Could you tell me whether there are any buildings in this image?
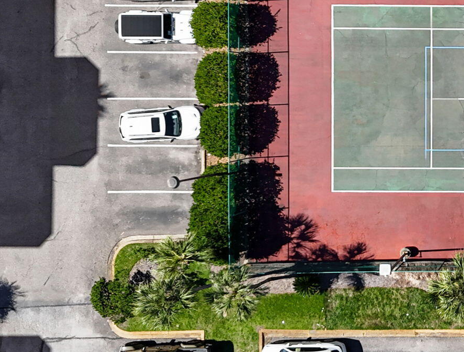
No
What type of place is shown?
sports ground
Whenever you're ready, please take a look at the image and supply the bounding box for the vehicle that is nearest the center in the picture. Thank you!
[119,102,204,144]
